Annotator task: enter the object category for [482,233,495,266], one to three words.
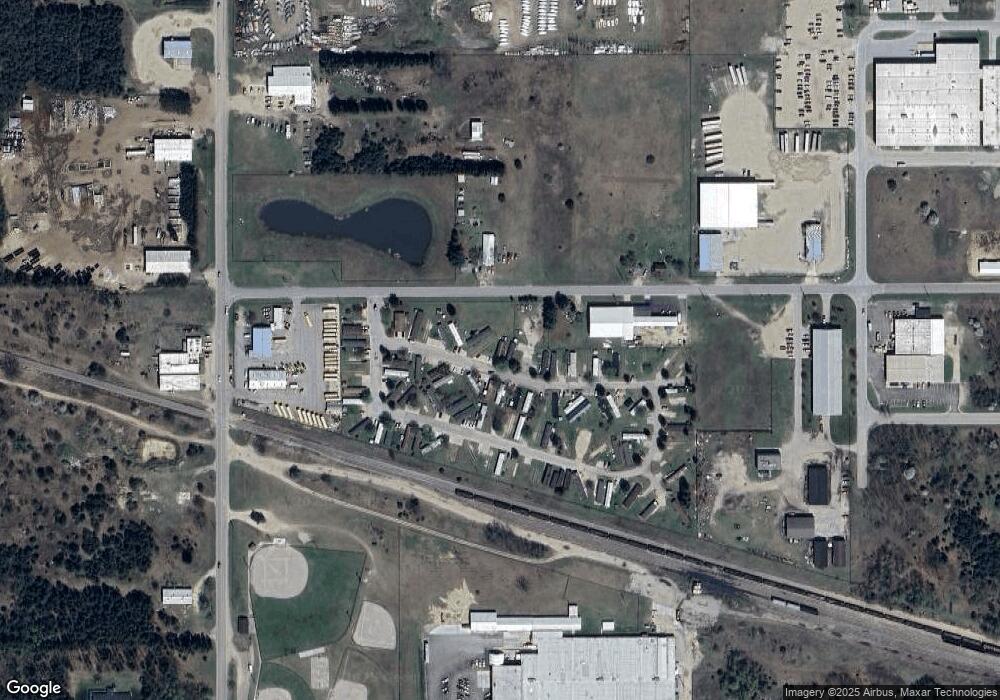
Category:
house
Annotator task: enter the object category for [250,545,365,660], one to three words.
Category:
baseball field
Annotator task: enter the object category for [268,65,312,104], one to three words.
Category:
building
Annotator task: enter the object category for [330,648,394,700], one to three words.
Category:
baseball field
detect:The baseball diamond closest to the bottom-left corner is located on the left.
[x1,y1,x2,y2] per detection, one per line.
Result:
[256,663,312,700]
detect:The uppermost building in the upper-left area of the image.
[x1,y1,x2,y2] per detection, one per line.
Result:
[163,40,192,59]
